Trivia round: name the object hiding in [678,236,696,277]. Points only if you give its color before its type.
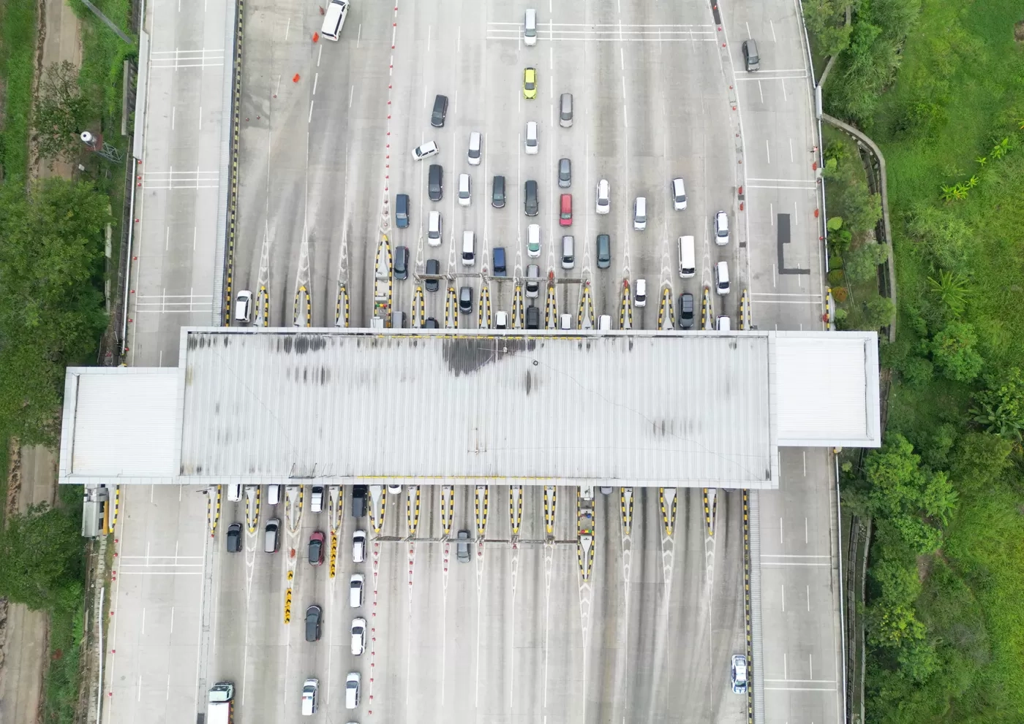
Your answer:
white vehicle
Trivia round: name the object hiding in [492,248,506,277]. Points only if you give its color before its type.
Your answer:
blue vehicle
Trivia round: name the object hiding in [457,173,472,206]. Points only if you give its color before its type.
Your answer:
white car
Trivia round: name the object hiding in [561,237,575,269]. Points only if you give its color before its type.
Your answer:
white car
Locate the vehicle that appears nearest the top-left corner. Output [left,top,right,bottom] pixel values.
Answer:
[323,0,347,38]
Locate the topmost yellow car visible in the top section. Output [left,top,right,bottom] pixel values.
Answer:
[522,69,537,99]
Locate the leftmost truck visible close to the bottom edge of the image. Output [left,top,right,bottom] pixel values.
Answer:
[206,682,232,724]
